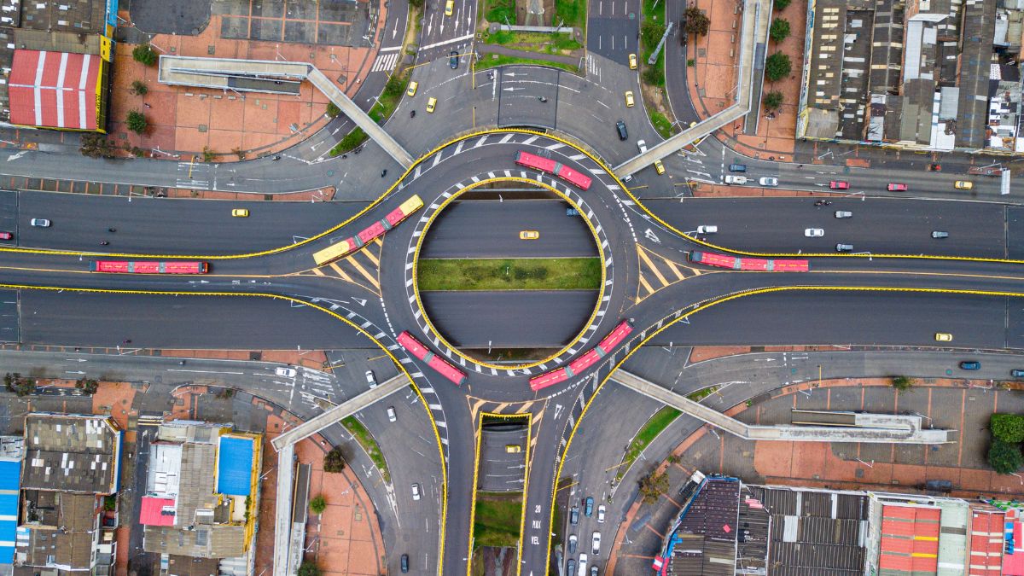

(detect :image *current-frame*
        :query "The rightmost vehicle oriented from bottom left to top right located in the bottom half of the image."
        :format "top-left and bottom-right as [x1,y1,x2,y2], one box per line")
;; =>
[632,513,651,531]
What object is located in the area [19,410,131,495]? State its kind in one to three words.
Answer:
building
